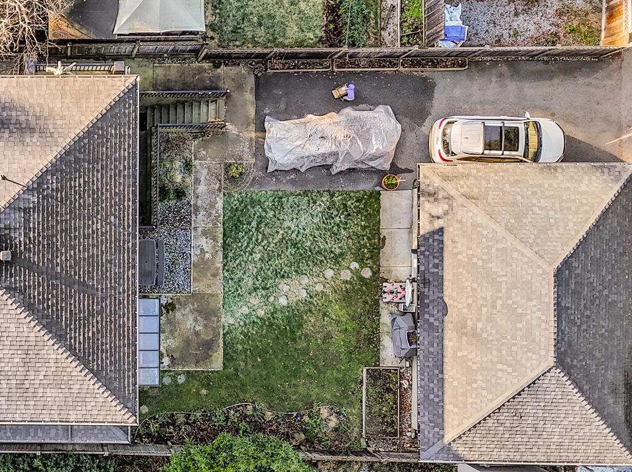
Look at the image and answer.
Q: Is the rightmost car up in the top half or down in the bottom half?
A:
top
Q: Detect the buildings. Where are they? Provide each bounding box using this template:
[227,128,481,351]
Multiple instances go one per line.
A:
[0,50,142,444]
[413,161,632,466]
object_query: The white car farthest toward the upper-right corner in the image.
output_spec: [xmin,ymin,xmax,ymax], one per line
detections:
[428,108,564,161]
